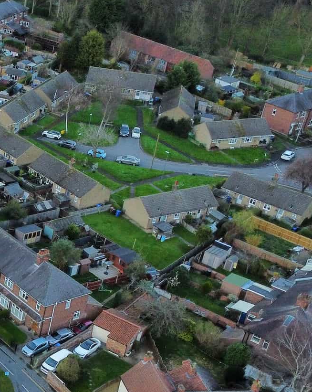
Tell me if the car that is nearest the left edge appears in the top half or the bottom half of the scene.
bottom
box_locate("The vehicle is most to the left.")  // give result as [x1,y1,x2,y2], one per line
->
[19,335,50,357]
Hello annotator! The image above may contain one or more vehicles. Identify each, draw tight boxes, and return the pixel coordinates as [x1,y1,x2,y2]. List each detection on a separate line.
[120,124,130,135]
[72,338,102,358]
[56,139,79,150]
[132,126,141,138]
[116,156,141,167]
[86,149,108,160]
[47,331,69,350]
[279,149,297,160]
[44,348,73,369]
[42,130,63,140]
[19,335,50,357]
